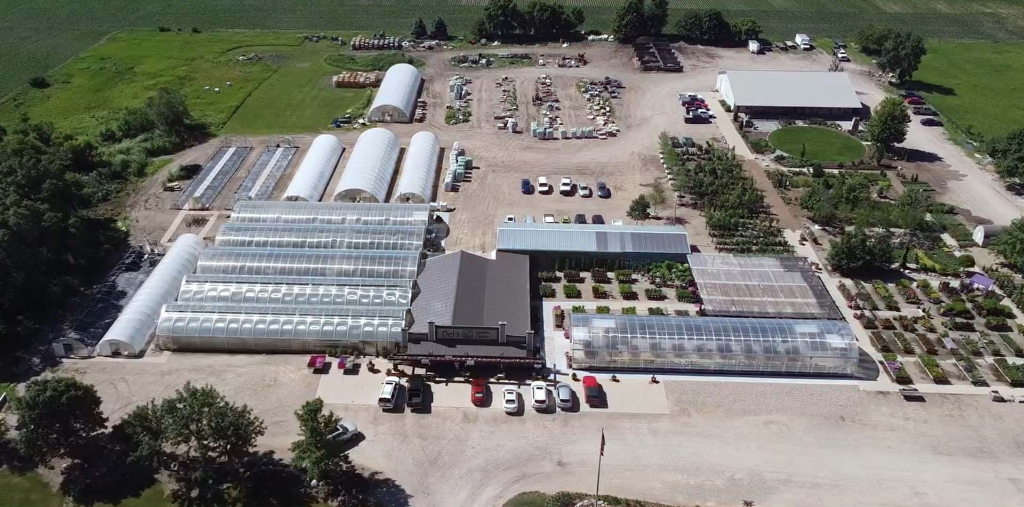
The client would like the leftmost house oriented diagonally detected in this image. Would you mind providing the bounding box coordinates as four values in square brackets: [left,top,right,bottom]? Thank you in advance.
[47,227,174,359]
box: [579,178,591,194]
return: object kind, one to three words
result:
vehicle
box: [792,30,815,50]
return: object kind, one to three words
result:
vehicle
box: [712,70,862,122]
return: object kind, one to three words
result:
building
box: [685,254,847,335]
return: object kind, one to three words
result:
house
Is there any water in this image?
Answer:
No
